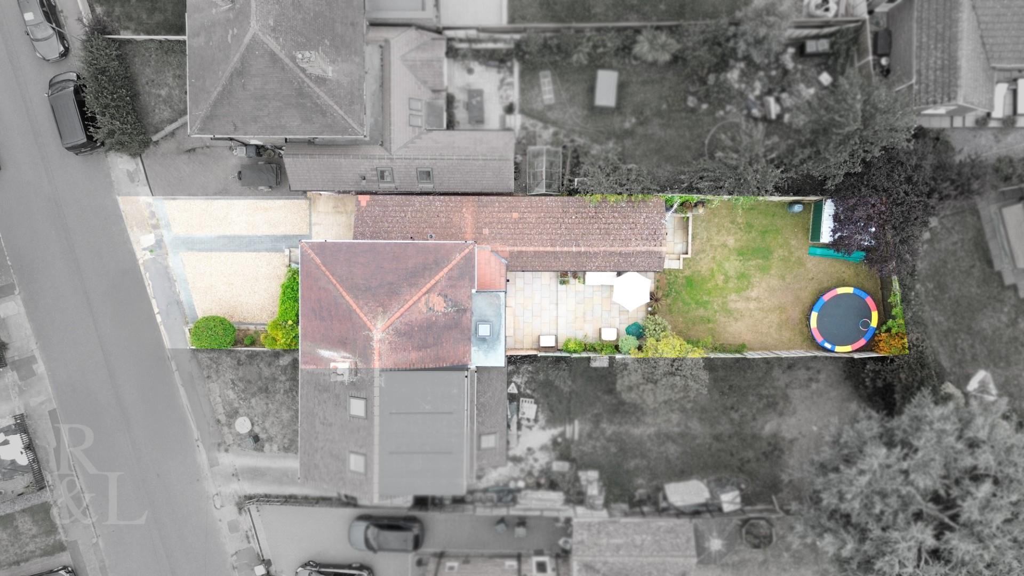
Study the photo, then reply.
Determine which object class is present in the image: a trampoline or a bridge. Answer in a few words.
trampoline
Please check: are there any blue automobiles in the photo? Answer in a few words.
No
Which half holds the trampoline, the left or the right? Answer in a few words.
right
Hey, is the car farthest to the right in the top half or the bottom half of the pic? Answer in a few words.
bottom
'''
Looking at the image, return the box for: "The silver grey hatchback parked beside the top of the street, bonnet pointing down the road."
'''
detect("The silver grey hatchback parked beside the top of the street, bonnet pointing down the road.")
[18,0,72,59]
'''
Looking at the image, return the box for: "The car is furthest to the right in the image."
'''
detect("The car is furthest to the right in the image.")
[349,516,425,557]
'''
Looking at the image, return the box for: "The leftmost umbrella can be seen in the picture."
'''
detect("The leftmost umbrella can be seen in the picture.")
[615,274,649,311]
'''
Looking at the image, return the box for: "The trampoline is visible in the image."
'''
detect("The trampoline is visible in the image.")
[802,284,878,354]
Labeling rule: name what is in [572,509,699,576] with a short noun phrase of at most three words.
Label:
shed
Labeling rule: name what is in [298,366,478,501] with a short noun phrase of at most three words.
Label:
house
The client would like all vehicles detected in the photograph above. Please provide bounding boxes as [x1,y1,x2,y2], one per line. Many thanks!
[45,74,104,159]
[295,560,372,576]
[349,516,425,557]
[18,0,72,59]
[9,566,72,576]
